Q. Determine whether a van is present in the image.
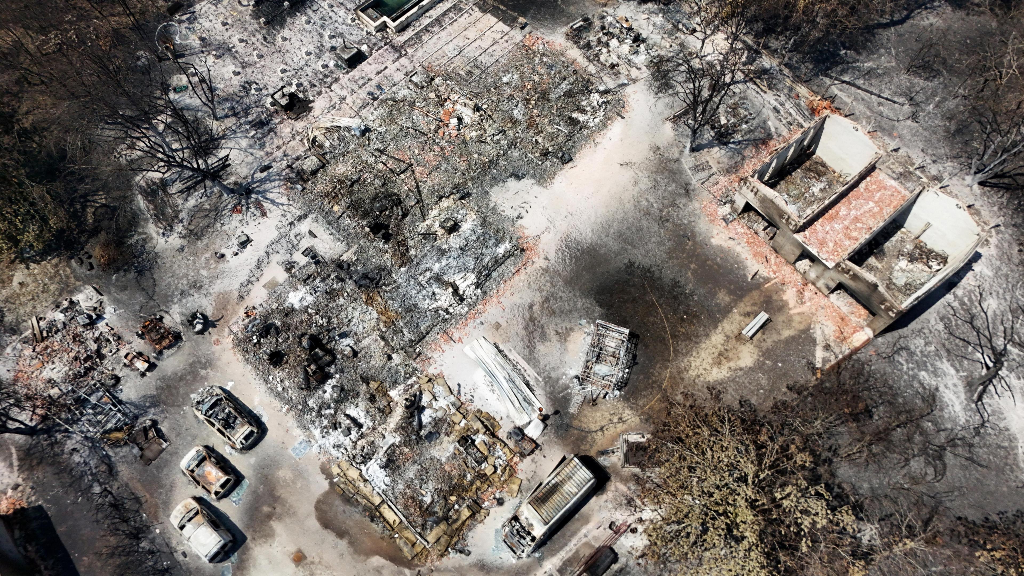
Yes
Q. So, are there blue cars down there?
No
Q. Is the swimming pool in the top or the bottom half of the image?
top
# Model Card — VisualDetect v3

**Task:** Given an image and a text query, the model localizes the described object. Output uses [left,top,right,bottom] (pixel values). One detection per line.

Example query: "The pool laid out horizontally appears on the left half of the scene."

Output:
[353,0,452,33]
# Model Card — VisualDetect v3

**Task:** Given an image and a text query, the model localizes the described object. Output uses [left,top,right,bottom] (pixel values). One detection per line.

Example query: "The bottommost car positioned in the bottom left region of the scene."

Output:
[174,501,234,563]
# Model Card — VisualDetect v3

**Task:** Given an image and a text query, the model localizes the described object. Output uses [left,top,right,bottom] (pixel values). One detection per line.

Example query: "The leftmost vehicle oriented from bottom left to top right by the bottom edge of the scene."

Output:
[502,454,603,556]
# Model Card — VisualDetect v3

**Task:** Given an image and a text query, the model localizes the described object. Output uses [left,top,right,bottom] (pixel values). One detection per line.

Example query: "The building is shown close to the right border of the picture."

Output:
[729,114,990,338]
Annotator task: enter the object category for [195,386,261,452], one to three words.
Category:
car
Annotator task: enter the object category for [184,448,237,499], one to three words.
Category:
car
